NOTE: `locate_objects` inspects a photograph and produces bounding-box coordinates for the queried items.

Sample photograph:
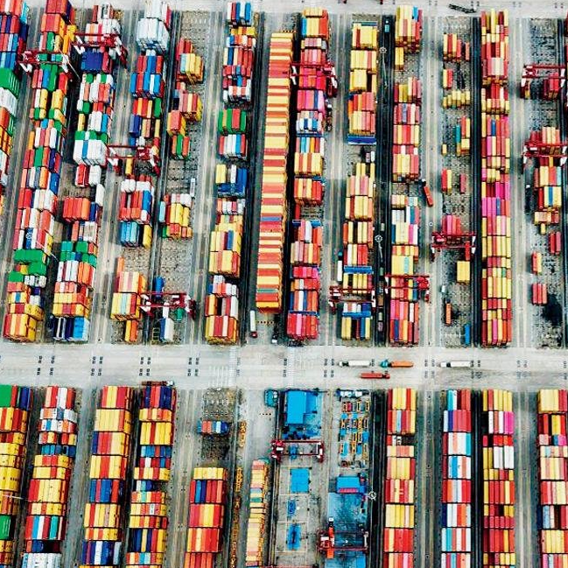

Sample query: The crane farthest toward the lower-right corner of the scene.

[315,525,368,558]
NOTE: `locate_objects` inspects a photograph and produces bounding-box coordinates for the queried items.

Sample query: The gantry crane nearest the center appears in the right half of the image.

[326,285,375,317]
